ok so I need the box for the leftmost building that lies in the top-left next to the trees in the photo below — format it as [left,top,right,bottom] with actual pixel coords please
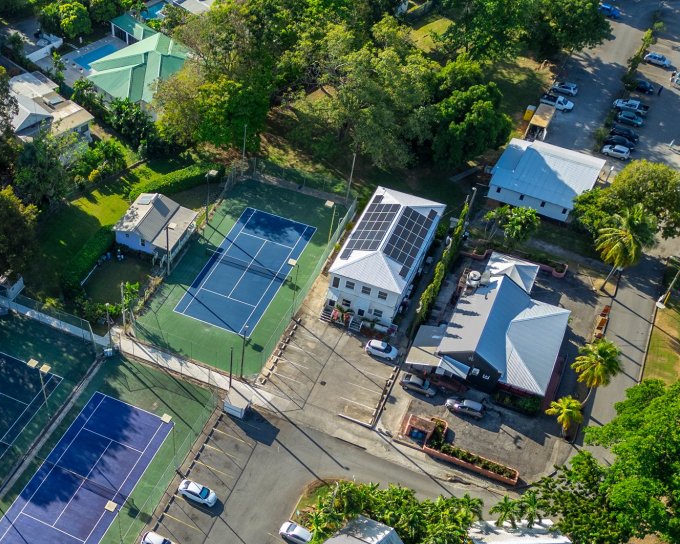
[0,72,94,147]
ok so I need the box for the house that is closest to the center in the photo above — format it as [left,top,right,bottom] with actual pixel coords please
[323,186,446,325]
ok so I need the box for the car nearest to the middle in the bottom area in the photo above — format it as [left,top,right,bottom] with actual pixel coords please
[365,338,400,361]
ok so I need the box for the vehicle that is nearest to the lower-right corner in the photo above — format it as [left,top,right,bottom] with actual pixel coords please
[446,395,485,418]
